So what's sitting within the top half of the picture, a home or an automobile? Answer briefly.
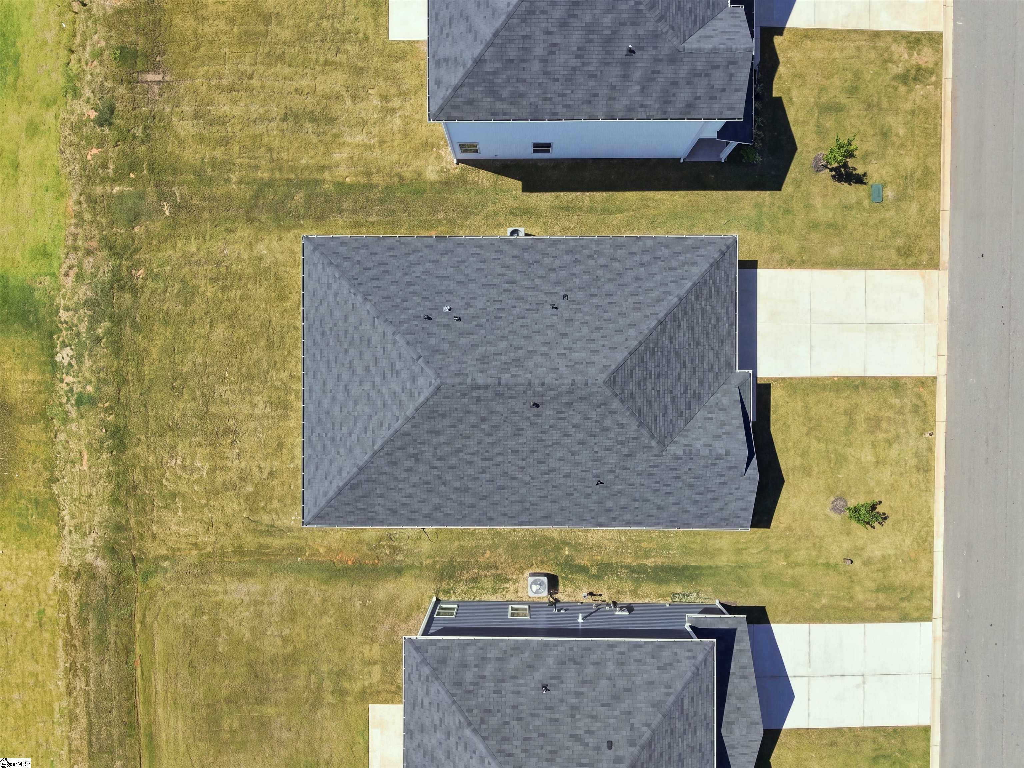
home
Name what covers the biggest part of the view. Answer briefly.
grass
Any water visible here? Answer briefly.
No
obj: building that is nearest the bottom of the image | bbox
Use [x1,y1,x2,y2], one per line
[403,591,764,768]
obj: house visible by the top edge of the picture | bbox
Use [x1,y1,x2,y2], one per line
[428,0,758,164]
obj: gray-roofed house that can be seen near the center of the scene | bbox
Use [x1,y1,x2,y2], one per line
[301,234,759,530]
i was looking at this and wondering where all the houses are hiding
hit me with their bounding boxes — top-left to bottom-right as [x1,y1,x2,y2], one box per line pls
[428,0,758,164]
[301,234,759,530]
[403,591,764,768]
